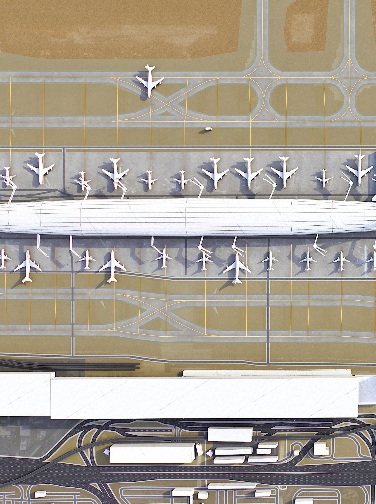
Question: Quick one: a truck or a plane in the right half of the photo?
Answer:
plane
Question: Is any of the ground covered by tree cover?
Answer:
No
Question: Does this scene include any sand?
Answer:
Yes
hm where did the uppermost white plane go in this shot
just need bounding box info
[135,65,163,98]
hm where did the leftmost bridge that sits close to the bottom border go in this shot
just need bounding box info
[0,435,208,487]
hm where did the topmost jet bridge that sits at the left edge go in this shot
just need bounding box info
[3,176,23,204]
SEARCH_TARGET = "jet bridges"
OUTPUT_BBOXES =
[38,234,56,257]
[313,234,328,256]
[113,178,131,200]
[3,176,23,204]
[339,173,354,201]
[191,176,206,199]
[70,235,86,258]
[152,236,167,255]
[198,236,214,258]
[263,174,278,199]
[231,236,248,257]
[76,177,95,200]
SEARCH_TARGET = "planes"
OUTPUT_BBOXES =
[346,154,374,186]
[135,65,163,98]
[173,170,192,189]
[270,156,298,188]
[25,152,53,185]
[195,251,213,270]
[155,249,173,269]
[262,250,280,271]
[101,157,129,189]
[333,251,351,270]
[140,169,158,190]
[300,251,317,271]
[201,157,229,189]
[12,250,41,283]
[235,157,263,189]
[0,249,12,269]
[78,250,96,270]
[97,250,126,283]
[315,169,333,188]
[222,252,250,284]
[366,251,376,270]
